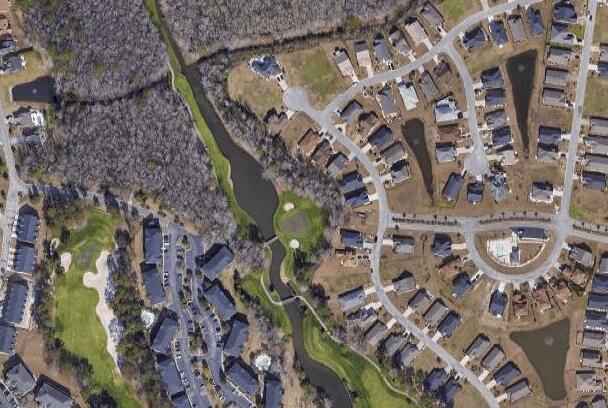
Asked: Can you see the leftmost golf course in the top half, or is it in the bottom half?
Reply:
bottom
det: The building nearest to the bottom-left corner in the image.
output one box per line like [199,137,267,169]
[0,357,41,396]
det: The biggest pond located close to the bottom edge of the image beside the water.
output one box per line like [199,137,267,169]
[510,316,569,399]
